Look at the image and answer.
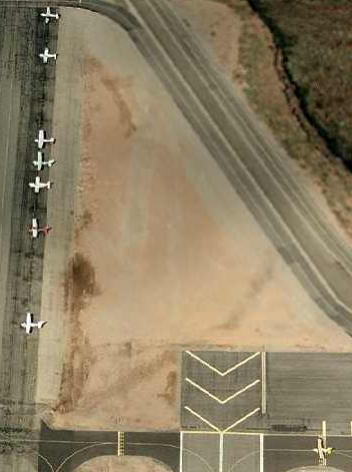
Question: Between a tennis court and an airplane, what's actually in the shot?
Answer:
airplane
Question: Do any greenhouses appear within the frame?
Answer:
No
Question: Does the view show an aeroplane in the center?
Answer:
No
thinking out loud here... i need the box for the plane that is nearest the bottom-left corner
[21,311,45,333]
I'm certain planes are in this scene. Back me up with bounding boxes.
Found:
[30,178,51,194]
[33,151,54,169]
[312,436,334,463]
[39,48,60,63]
[41,7,61,22]
[28,218,50,236]
[34,129,55,147]
[21,311,45,333]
